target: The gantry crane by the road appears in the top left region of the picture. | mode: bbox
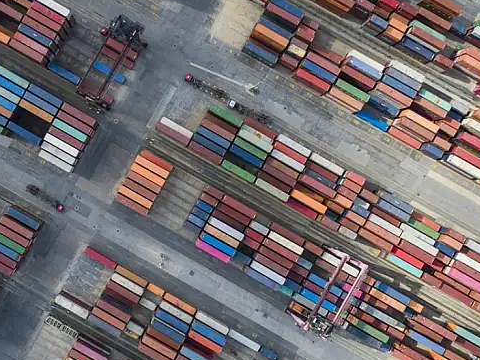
[75,17,149,113]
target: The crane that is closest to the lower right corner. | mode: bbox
[283,239,372,340]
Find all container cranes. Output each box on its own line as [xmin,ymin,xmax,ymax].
[75,17,149,113]
[283,239,372,340]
